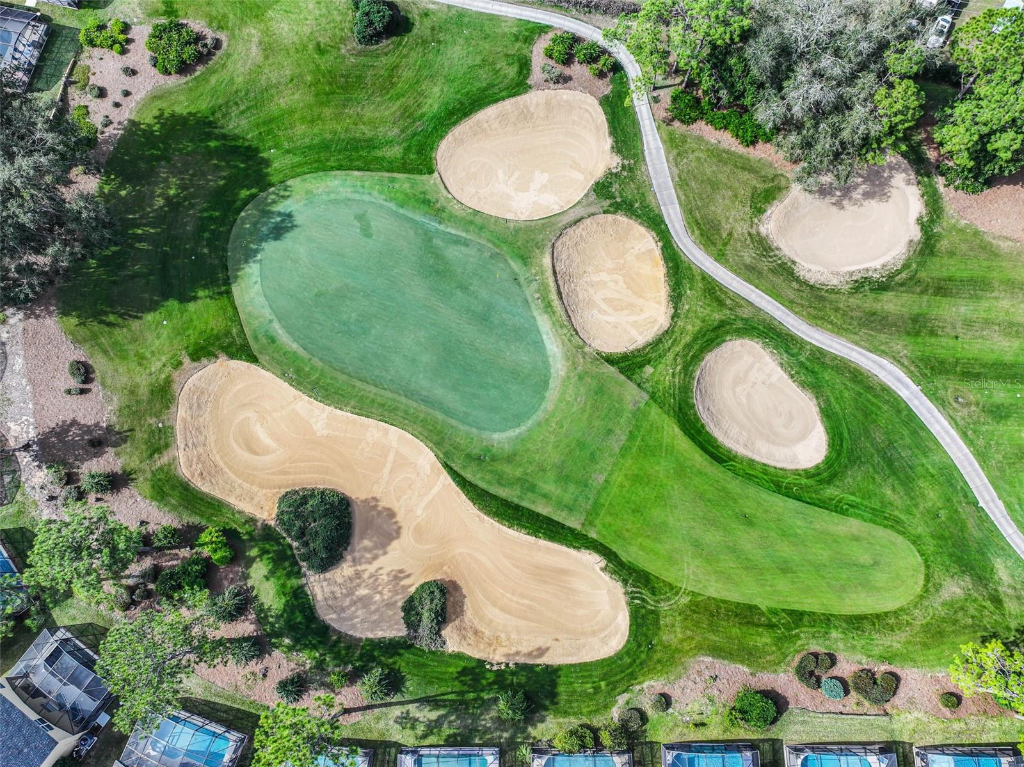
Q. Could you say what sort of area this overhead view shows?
golf course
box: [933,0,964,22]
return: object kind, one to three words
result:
truck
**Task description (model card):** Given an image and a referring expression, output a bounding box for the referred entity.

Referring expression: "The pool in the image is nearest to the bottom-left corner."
[20,627,113,731]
